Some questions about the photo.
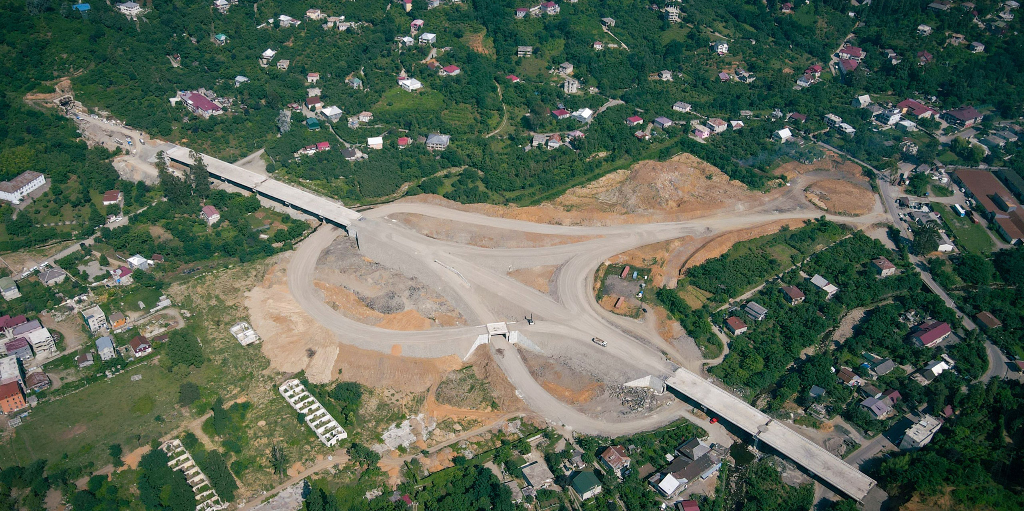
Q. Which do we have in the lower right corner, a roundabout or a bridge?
bridge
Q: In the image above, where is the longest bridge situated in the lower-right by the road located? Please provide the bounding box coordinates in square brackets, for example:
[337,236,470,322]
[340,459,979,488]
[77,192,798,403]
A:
[625,366,878,496]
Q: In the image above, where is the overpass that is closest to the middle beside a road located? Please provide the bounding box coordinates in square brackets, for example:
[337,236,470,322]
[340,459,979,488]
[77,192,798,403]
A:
[467,321,539,355]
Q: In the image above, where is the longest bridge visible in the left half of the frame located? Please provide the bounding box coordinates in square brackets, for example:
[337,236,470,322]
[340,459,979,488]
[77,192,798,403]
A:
[167,150,362,251]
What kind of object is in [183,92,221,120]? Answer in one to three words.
house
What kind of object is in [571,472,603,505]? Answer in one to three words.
house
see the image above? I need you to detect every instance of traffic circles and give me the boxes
[759,169,892,222]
